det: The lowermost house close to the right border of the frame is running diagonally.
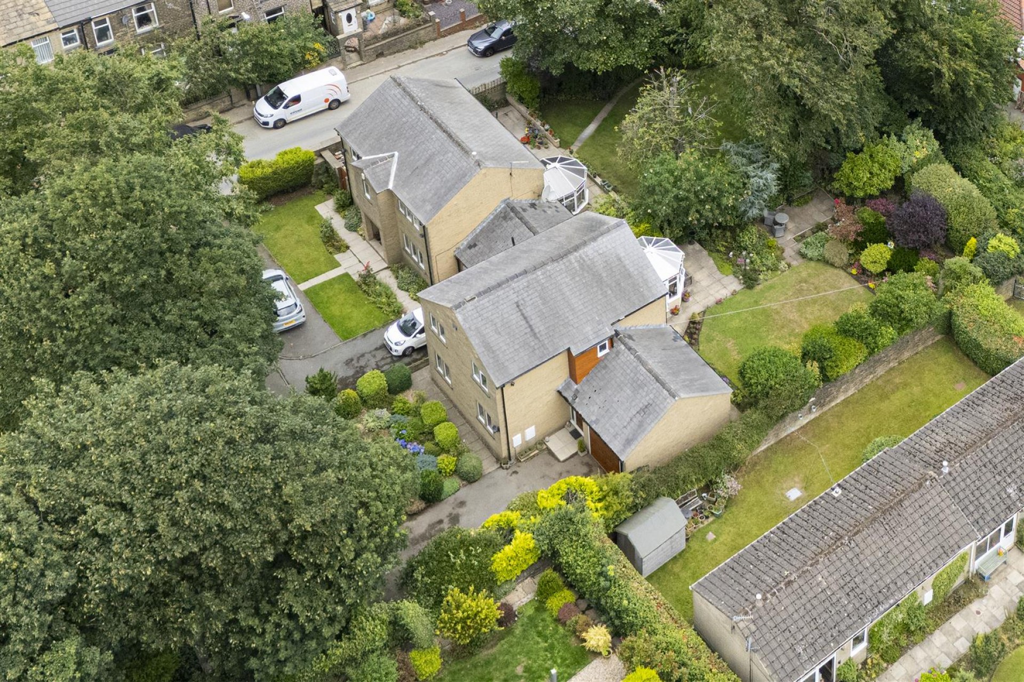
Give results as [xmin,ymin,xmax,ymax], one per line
[690,343,1024,682]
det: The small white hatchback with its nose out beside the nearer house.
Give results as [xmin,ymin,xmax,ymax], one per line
[383,301,427,351]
